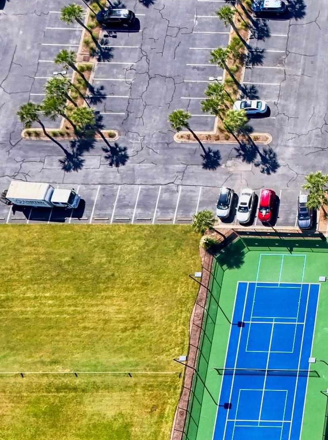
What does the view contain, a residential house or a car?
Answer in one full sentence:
I can see a car in this picture.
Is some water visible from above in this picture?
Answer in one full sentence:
No, there is no water in the image.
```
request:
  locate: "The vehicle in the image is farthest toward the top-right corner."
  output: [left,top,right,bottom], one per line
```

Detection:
[252,0,286,16]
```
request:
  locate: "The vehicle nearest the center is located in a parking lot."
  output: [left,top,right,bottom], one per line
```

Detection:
[214,186,236,219]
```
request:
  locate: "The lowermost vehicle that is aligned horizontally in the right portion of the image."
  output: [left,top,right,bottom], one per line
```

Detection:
[234,99,268,116]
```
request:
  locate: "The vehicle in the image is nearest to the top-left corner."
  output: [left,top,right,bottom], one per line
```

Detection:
[97,10,135,28]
